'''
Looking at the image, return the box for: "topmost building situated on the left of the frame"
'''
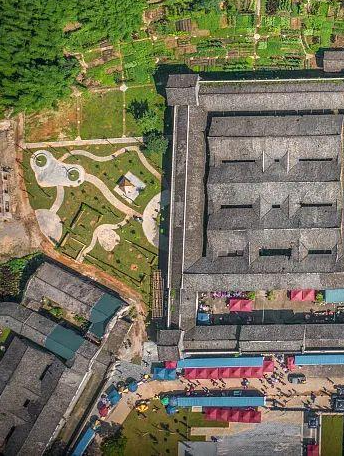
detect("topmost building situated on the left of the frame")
[114,171,147,204]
